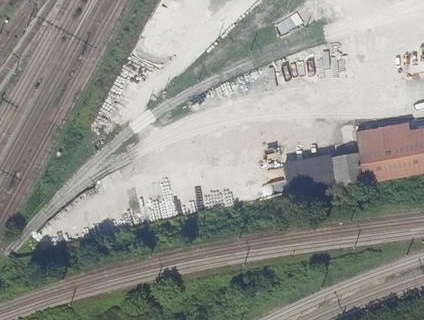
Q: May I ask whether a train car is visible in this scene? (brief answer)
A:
No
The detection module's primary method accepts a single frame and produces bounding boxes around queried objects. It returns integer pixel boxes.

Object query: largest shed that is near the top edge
[276,12,304,35]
